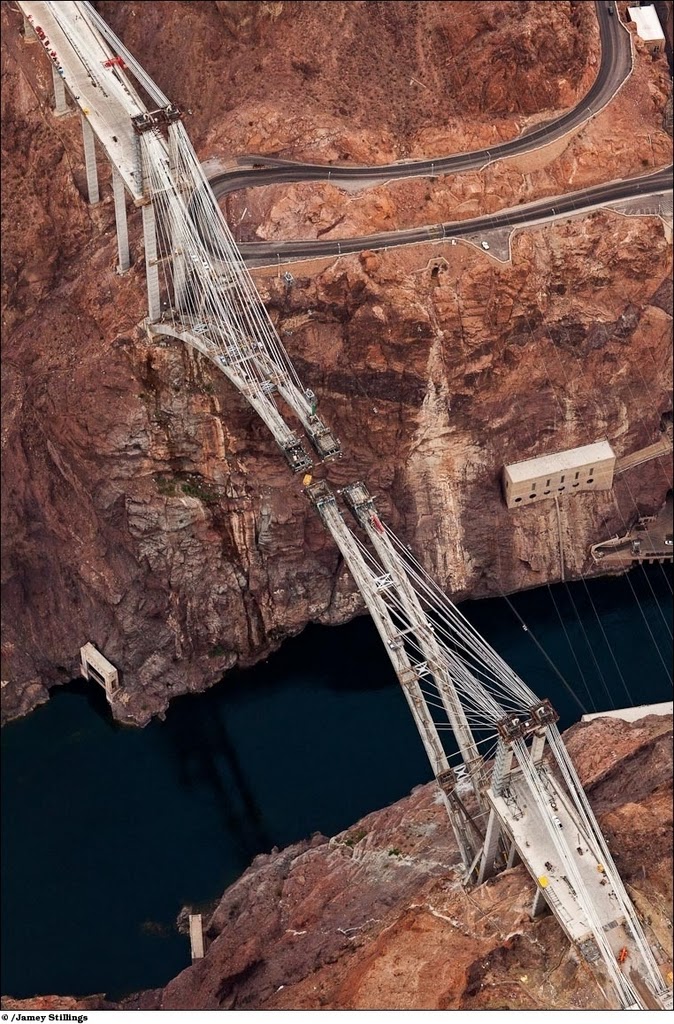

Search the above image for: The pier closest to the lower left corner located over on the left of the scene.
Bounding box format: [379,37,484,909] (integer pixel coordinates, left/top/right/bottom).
[188,917,203,963]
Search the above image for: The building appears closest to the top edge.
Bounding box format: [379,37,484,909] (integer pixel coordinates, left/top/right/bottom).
[625,4,666,56]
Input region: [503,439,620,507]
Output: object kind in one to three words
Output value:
building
